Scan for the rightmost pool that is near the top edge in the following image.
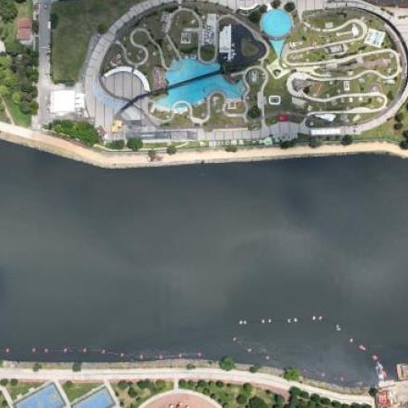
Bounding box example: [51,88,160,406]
[260,5,293,57]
